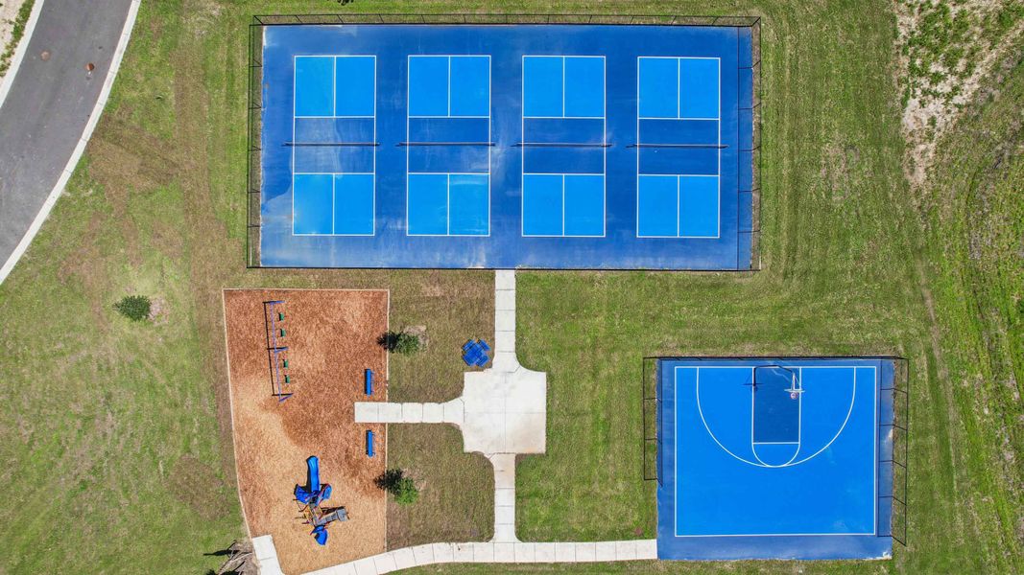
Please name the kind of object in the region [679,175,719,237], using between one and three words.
sports court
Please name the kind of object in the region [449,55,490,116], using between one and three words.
sports court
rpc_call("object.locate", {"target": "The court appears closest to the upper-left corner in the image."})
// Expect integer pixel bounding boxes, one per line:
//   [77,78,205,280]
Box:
[294,55,334,116]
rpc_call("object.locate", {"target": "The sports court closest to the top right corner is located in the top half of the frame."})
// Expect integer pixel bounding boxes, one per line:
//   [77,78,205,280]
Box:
[679,58,720,118]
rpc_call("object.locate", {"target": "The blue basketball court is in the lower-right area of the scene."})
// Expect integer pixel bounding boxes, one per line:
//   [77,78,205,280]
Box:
[657,359,894,561]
